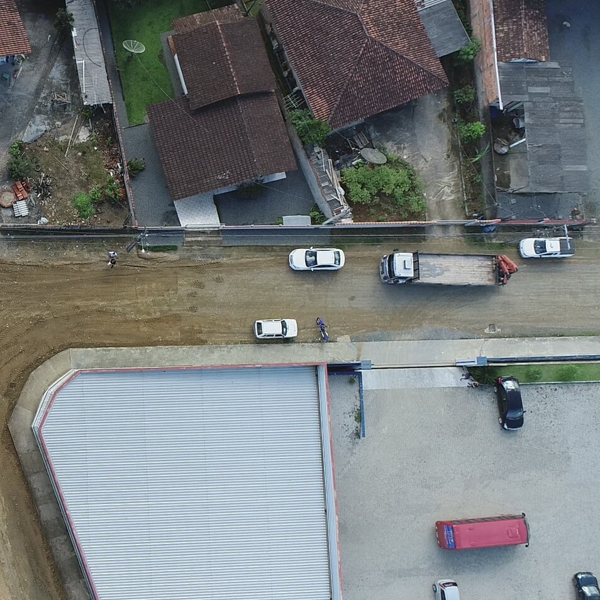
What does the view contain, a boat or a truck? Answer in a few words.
truck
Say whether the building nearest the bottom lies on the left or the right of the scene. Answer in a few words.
left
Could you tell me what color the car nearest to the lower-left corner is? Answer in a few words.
white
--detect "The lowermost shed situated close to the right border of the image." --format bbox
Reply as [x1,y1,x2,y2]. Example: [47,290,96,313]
[499,62,586,192]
